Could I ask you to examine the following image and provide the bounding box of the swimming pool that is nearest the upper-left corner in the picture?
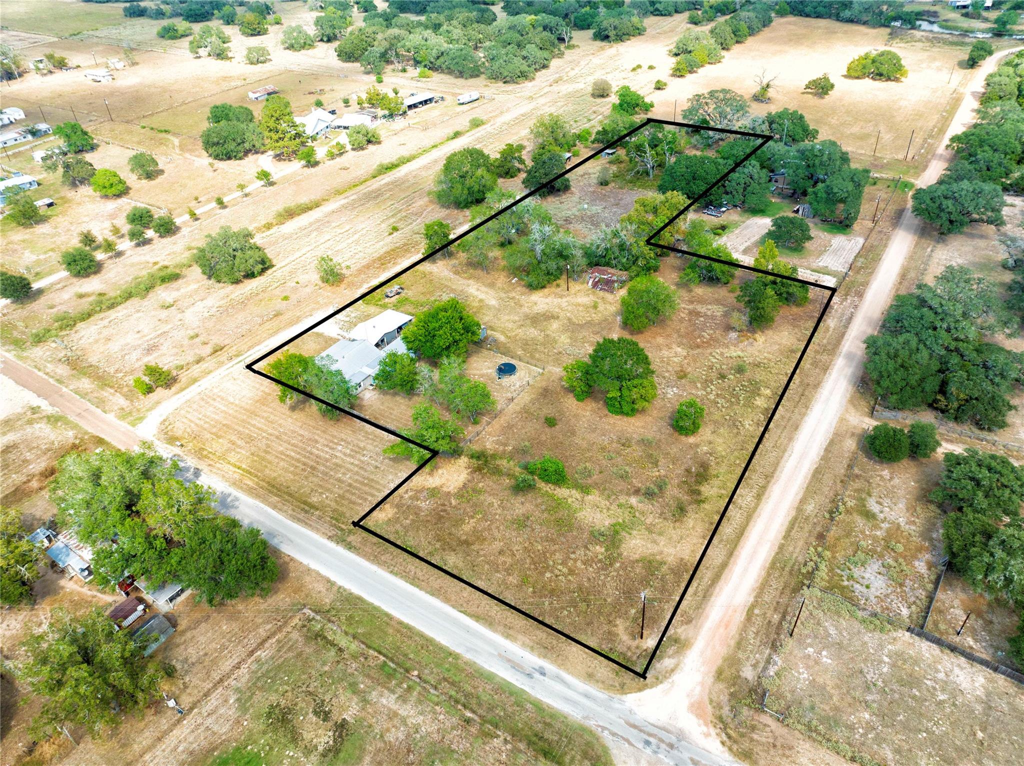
[495,359,517,376]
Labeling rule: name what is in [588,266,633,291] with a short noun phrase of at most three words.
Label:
shed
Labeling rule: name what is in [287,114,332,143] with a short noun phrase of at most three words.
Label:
house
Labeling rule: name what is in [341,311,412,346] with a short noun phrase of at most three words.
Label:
building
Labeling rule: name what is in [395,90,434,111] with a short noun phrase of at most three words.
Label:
building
